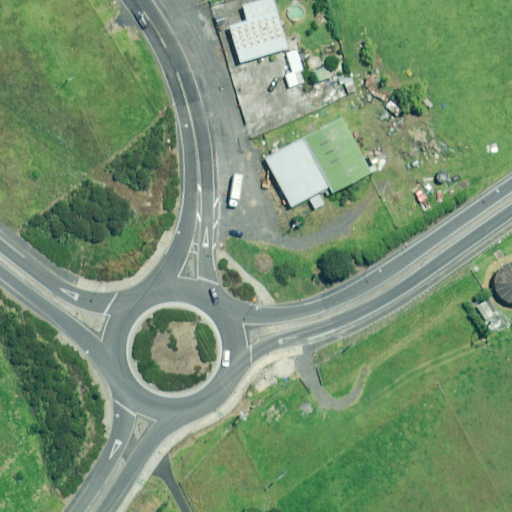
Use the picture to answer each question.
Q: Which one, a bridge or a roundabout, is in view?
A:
roundabout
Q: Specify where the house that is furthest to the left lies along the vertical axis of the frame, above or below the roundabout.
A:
above it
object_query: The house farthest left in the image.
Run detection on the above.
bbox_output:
[230,0,287,64]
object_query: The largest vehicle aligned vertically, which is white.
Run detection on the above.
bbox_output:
[228,173,242,208]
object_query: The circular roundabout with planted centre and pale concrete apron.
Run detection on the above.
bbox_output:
[87,254,276,429]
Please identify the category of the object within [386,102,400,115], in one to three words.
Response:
vehicle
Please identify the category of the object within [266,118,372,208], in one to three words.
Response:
barn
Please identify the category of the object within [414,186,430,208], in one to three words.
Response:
vehicle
